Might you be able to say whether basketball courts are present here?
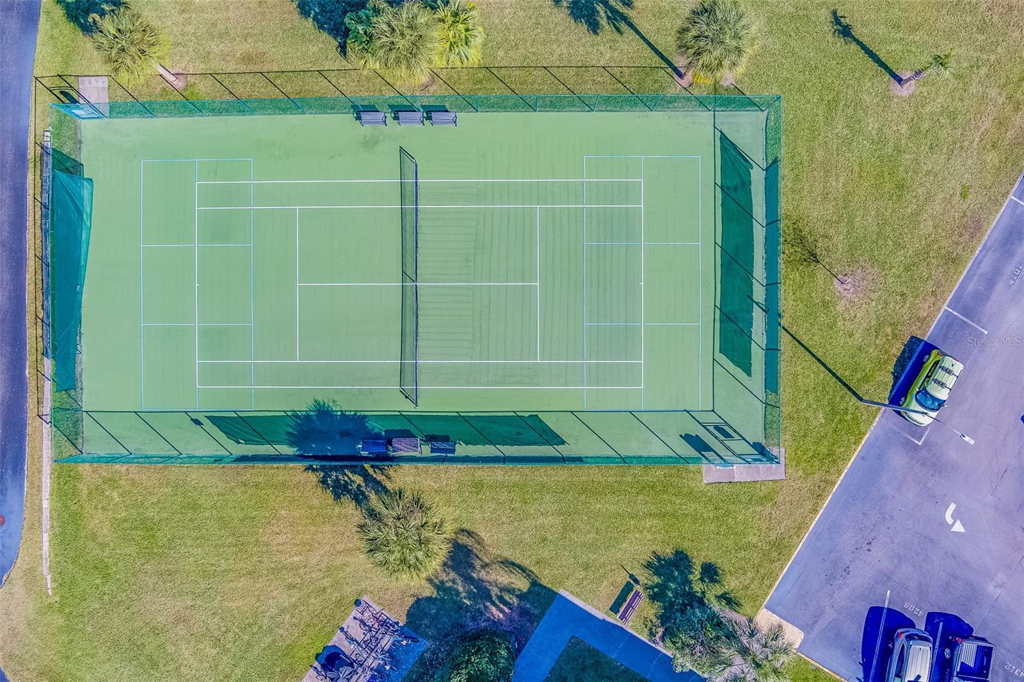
No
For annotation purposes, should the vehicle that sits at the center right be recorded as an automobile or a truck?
automobile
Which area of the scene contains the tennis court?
center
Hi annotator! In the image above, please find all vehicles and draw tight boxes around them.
[883,627,937,682]
[945,633,998,682]
[899,346,968,429]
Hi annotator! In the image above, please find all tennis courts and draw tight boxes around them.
[81,110,767,456]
